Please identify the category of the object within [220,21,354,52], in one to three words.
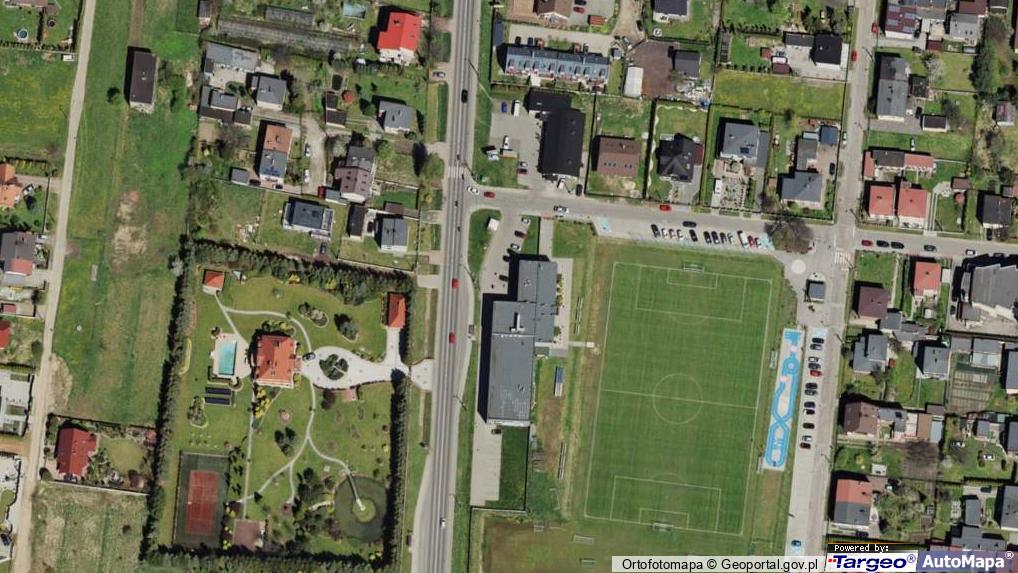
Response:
greenhouse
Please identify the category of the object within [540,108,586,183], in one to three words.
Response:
building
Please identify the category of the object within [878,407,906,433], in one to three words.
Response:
shed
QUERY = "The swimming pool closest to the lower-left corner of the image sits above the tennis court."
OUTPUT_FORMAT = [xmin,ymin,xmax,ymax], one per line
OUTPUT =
[218,339,237,378]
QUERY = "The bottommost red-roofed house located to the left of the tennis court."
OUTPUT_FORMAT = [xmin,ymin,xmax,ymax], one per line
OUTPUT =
[56,427,99,477]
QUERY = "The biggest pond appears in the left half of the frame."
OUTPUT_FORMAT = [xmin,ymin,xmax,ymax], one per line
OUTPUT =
[333,475,388,542]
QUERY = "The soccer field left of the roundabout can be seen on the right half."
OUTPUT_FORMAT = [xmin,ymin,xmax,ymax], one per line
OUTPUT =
[582,260,776,539]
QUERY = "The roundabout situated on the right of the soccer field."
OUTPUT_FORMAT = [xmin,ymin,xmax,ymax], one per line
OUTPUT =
[783,253,813,282]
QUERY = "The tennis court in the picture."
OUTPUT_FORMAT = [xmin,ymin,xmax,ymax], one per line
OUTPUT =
[175,453,229,545]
